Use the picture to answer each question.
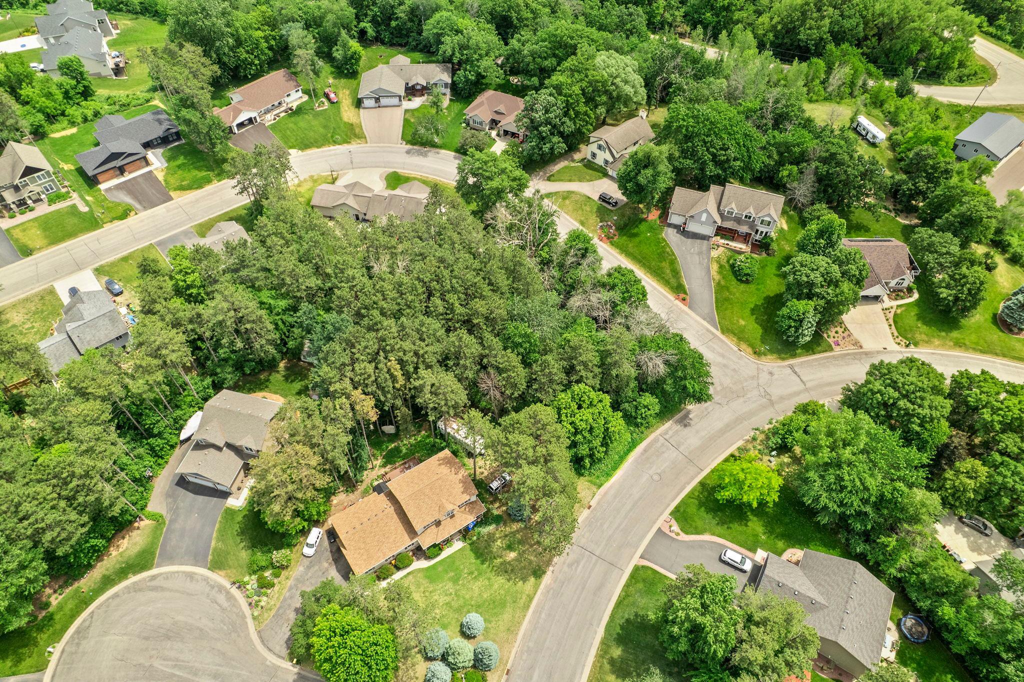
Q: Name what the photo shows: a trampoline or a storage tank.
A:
trampoline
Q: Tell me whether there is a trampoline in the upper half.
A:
No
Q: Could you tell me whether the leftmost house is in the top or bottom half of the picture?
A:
top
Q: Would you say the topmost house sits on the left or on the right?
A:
left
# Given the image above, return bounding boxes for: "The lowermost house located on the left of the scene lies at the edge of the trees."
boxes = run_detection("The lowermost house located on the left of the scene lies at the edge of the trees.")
[329,452,487,575]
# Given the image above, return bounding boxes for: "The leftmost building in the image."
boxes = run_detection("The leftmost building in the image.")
[0,143,62,213]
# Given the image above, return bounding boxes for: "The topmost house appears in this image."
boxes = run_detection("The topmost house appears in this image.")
[35,0,122,49]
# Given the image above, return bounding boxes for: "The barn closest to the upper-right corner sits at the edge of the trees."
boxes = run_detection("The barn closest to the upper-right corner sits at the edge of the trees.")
[951,114,1024,174]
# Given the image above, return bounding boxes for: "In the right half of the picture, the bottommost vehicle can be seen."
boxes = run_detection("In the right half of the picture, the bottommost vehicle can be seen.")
[719,549,752,574]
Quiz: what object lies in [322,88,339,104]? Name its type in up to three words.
vehicle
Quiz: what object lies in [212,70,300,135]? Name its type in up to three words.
house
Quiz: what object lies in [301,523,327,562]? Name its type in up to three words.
car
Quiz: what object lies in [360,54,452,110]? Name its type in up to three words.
house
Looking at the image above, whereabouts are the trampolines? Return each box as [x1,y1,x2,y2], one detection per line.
[897,609,938,646]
